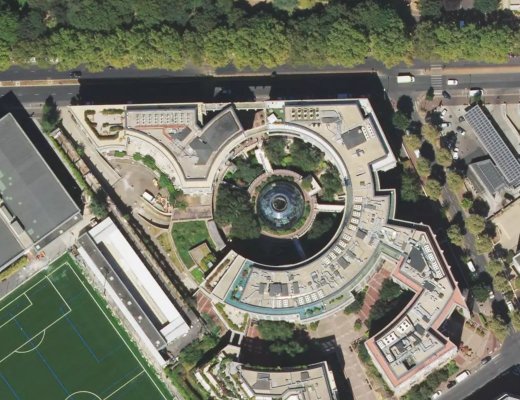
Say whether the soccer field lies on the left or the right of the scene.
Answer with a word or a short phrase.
left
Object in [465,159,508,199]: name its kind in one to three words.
building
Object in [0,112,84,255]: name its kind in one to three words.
building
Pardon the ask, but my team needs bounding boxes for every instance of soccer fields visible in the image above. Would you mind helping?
[0,251,172,400]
